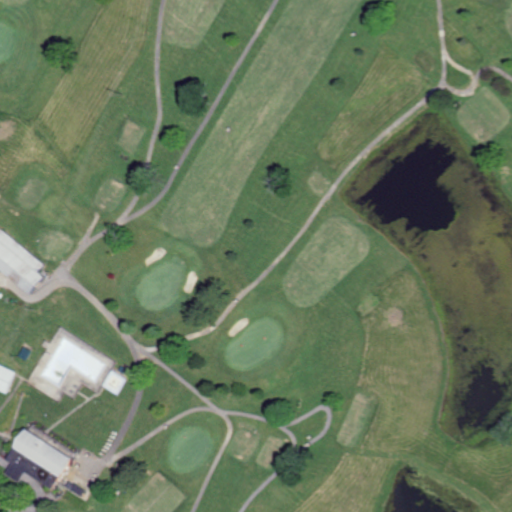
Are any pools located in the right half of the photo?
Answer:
No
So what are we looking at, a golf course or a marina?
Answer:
golf course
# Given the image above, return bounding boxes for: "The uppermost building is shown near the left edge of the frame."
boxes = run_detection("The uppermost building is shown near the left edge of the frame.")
[0,230,42,294]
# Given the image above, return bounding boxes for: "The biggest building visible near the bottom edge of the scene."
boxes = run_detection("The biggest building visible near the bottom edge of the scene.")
[4,430,70,490]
